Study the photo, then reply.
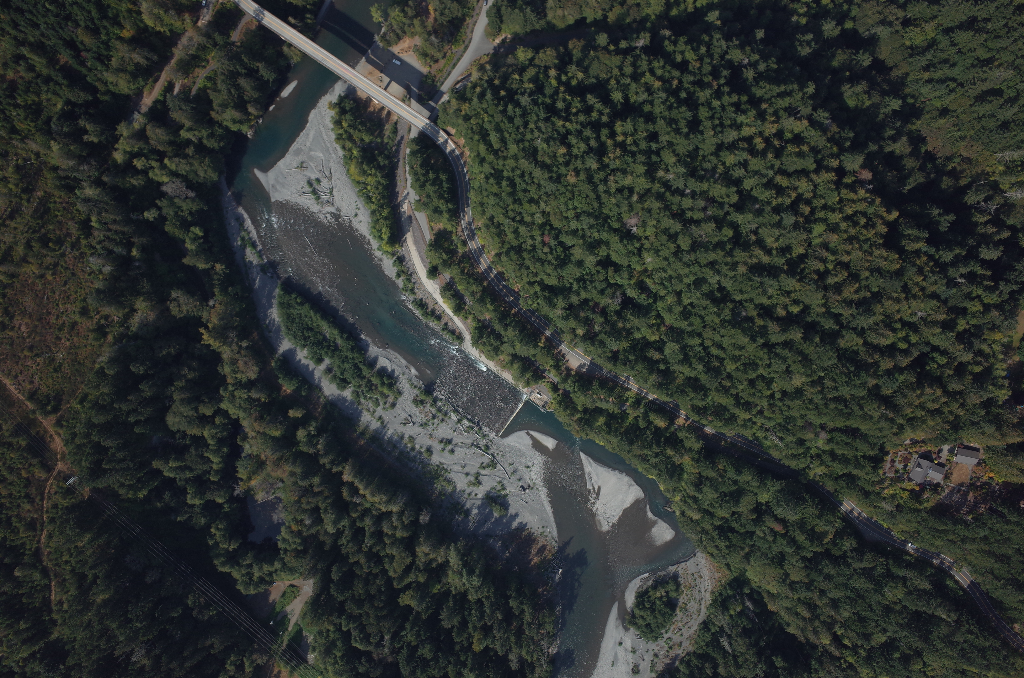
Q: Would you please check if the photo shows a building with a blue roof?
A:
No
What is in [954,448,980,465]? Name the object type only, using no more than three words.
building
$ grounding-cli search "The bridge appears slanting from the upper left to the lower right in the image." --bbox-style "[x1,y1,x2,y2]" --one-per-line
[225,0,428,131]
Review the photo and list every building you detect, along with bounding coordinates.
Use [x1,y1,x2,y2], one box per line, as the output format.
[908,458,945,483]
[954,448,980,465]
